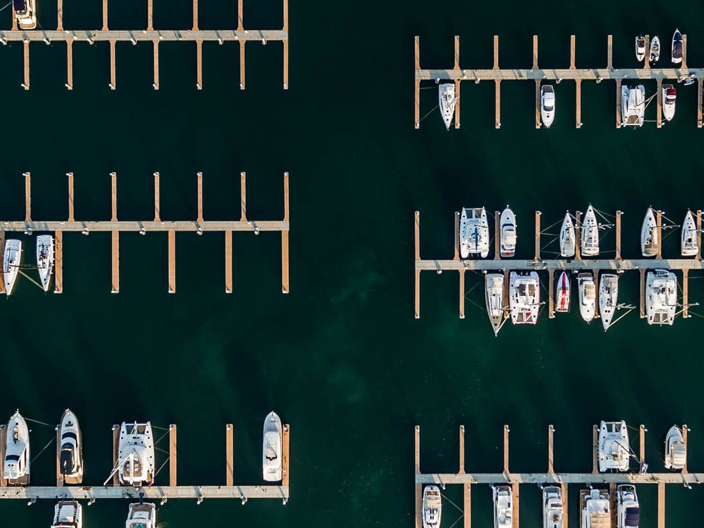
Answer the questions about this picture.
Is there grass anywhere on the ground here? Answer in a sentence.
No, the picture contains no grass.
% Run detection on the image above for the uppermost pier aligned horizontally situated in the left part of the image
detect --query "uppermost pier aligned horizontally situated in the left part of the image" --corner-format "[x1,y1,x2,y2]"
[0,30,288,46]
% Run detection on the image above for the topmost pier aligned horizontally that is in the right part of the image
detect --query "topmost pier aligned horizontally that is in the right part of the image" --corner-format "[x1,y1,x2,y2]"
[415,69,704,84]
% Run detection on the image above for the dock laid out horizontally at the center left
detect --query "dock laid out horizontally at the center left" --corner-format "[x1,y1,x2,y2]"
[0,221,289,236]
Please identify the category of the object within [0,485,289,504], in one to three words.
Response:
pier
